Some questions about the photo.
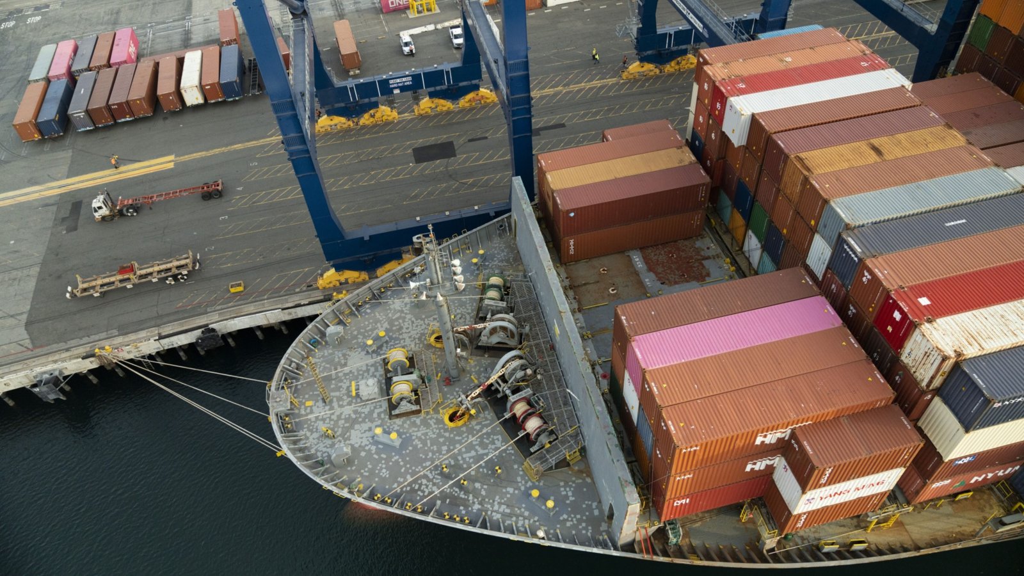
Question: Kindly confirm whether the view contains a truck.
Yes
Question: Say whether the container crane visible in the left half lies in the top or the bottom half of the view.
top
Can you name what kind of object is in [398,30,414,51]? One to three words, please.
car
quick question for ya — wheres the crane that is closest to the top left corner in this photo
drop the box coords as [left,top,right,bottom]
[235,0,535,284]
